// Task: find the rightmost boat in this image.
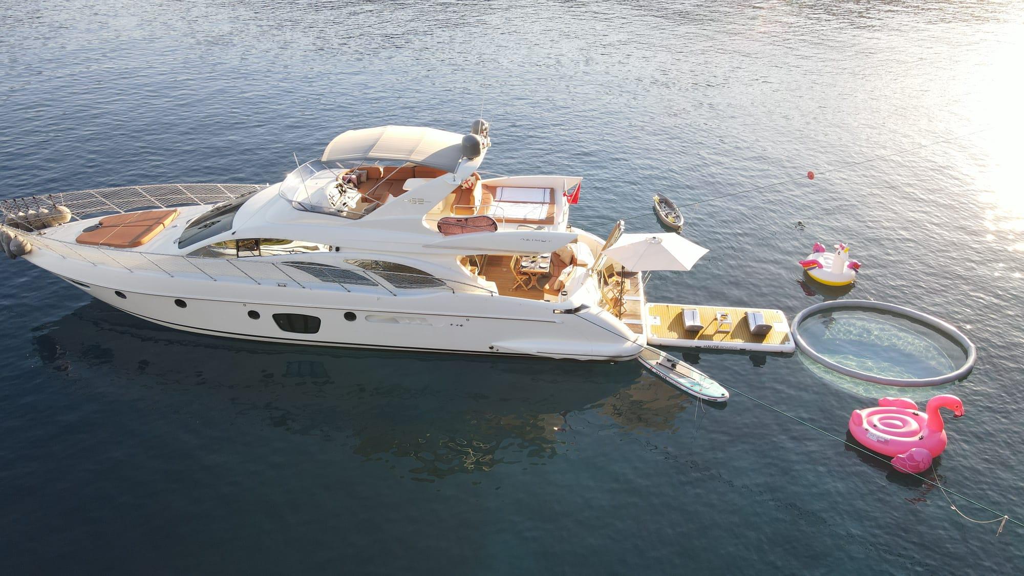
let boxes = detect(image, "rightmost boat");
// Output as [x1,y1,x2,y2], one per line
[653,193,686,229]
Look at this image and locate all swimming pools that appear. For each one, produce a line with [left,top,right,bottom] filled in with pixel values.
[790,300,975,409]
